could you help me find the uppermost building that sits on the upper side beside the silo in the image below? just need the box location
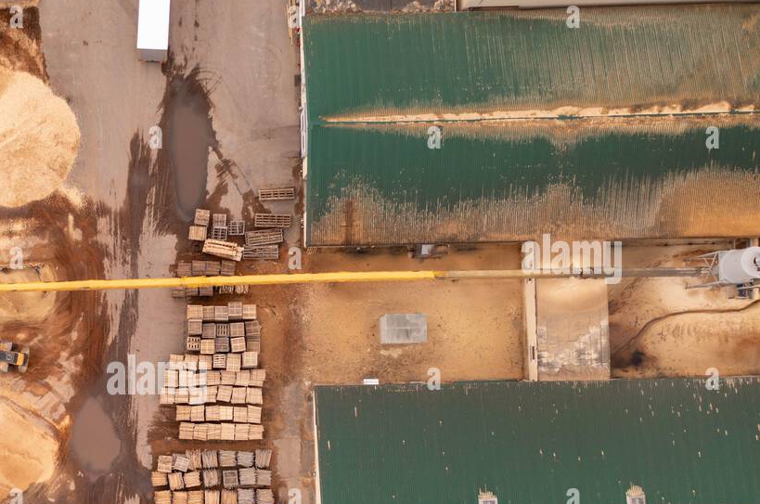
[295,6,760,248]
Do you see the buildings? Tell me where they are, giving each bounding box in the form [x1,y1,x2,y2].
[310,374,760,504]
[295,6,760,248]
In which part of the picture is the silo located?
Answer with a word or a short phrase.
right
